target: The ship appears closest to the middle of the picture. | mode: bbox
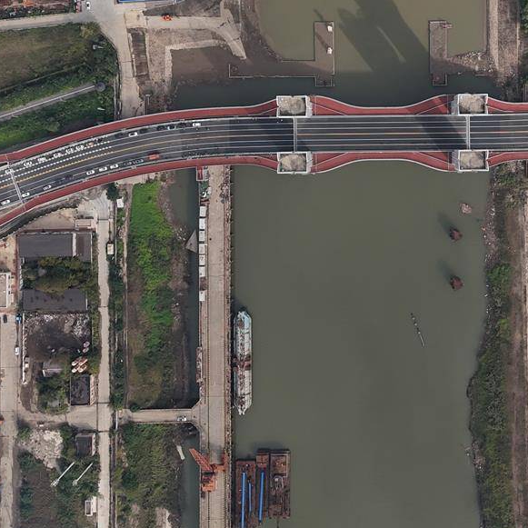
[234,311,252,416]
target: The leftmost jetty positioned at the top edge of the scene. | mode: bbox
[229,22,334,86]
